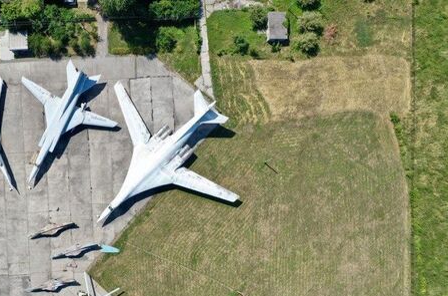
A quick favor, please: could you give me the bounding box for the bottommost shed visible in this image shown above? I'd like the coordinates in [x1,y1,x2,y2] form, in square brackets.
[10,33,28,52]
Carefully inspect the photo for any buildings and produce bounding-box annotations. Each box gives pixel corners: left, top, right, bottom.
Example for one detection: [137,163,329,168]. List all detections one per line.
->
[266,12,287,41]
[10,33,28,52]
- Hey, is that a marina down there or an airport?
airport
